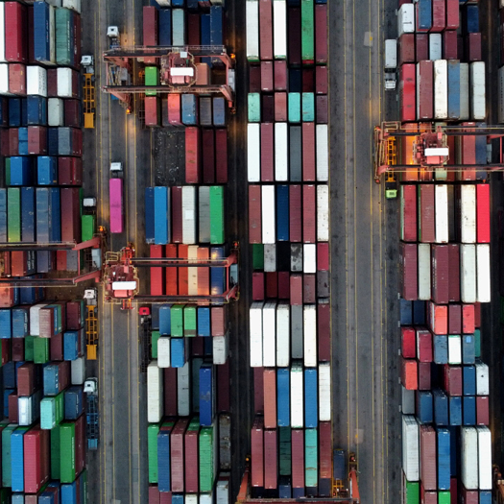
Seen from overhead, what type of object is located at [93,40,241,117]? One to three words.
container crane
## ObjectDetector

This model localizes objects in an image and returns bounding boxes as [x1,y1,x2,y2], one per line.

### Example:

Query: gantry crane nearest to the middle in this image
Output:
[96,238,242,307]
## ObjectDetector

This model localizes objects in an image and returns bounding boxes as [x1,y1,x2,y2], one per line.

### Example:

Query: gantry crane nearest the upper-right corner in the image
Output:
[374,118,504,184]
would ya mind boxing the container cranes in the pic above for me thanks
[224,448,364,504]
[0,224,108,289]
[374,118,504,184]
[93,40,241,117]
[96,238,242,307]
